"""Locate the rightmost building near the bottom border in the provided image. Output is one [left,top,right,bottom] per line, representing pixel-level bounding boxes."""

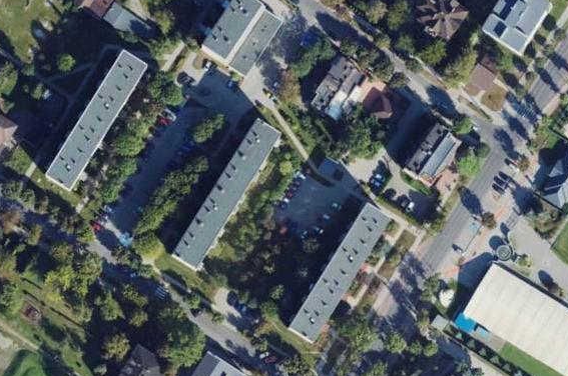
[455,263,568,376]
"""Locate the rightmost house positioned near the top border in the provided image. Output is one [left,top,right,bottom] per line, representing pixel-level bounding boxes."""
[481,0,553,58]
